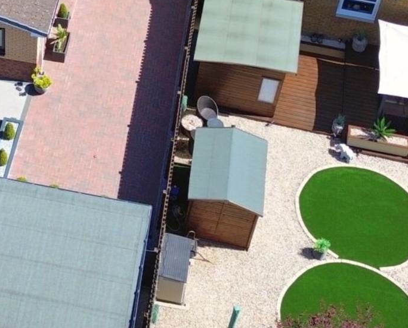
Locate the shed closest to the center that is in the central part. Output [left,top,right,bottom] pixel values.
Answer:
[186,120,268,245]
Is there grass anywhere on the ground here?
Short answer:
Yes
